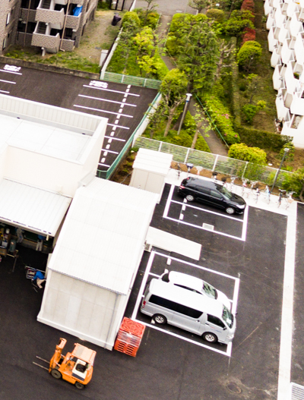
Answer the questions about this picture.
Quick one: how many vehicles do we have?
4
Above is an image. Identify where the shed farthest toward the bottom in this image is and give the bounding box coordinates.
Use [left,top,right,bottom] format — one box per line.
[36,172,163,351]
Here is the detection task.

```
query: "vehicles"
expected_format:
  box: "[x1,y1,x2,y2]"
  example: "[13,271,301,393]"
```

[26,338,100,392]
[142,282,235,345]
[160,271,245,325]
[177,176,251,215]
